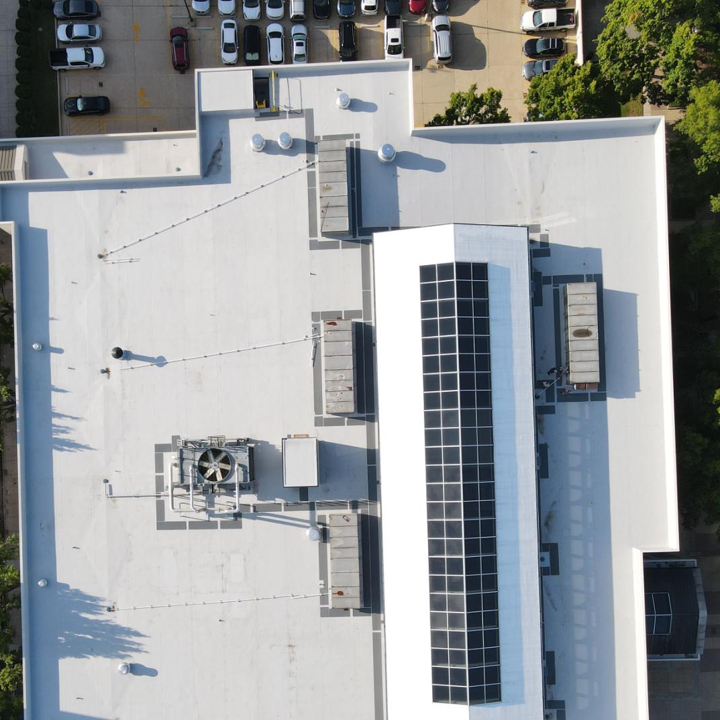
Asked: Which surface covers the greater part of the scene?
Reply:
buildings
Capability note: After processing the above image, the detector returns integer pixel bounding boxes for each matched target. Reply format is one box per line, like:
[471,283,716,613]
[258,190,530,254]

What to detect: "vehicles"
[430,17,454,65]
[57,0,99,22]
[336,20,359,62]
[311,0,334,20]
[288,25,310,65]
[361,0,379,16]
[168,28,191,76]
[431,0,450,14]
[240,0,262,21]
[409,0,428,16]
[50,44,104,72]
[193,0,211,15]
[336,0,358,18]
[520,7,577,35]
[218,18,240,66]
[524,36,566,61]
[263,23,287,66]
[525,0,572,12]
[216,0,237,16]
[67,94,110,118]
[383,14,407,60]
[59,20,102,45]
[240,21,263,67]
[288,0,305,23]
[263,0,287,18]
[521,58,567,83]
